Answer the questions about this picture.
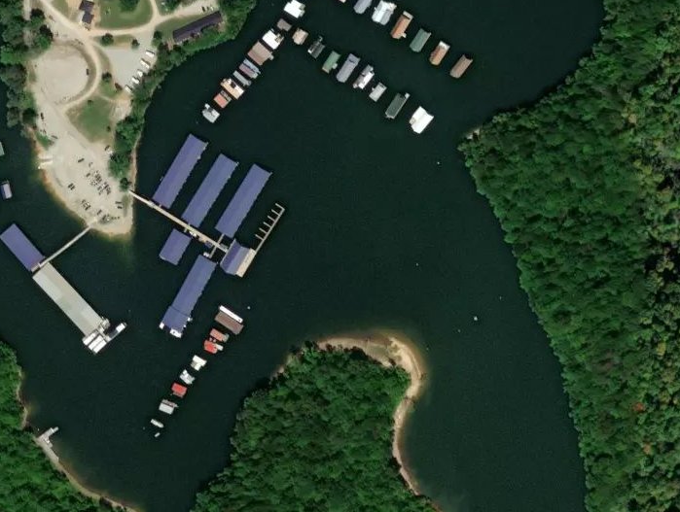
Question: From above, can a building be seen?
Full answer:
Yes, the frame does contain a building.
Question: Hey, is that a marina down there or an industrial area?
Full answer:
The picture captures a marina.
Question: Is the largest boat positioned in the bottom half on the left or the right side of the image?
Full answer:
It is on the left.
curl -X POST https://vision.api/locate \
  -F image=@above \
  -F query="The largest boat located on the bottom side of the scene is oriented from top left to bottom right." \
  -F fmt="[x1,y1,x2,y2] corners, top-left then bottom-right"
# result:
[215,310,244,334]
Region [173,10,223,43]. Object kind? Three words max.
building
